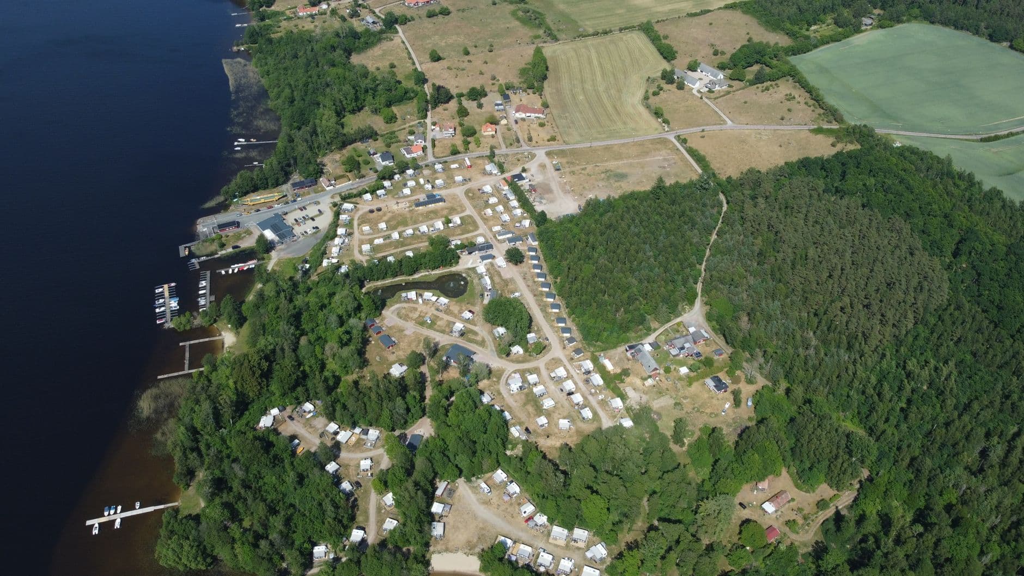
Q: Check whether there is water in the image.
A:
Yes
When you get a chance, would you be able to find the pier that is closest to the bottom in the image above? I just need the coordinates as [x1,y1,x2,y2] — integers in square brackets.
[86,501,179,526]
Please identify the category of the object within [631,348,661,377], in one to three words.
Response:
house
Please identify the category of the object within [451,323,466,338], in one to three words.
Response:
camper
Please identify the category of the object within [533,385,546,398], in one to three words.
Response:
vehicle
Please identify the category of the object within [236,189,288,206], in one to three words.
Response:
ship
